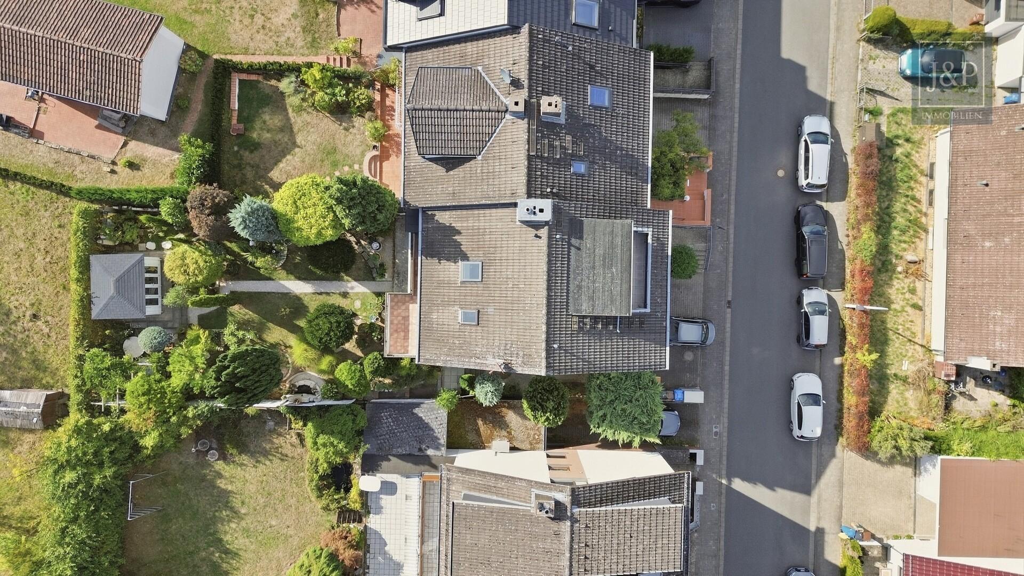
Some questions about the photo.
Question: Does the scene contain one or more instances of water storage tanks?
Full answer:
No, there appears to be no water storage tank in this shot.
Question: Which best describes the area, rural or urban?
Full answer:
This place is urban.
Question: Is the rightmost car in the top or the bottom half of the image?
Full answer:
You can find the rightmost car in the top half.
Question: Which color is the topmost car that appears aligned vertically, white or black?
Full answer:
The color of the topmost car that appears aligned vertically is white.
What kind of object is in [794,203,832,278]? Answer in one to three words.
car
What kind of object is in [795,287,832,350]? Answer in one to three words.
car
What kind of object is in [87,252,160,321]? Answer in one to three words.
building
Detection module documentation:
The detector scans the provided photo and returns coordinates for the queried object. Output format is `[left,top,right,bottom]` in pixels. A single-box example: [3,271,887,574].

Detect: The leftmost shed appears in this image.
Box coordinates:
[0,390,71,430]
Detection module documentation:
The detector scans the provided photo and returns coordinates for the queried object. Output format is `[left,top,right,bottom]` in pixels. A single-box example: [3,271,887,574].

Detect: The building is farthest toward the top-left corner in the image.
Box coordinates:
[0,0,185,122]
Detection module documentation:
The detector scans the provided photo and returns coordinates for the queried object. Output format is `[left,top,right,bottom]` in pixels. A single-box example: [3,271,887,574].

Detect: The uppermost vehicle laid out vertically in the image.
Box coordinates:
[796,116,834,192]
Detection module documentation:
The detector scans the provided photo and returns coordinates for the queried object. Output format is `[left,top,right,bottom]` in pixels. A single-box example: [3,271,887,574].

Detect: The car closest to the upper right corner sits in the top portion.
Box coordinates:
[897,47,964,82]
